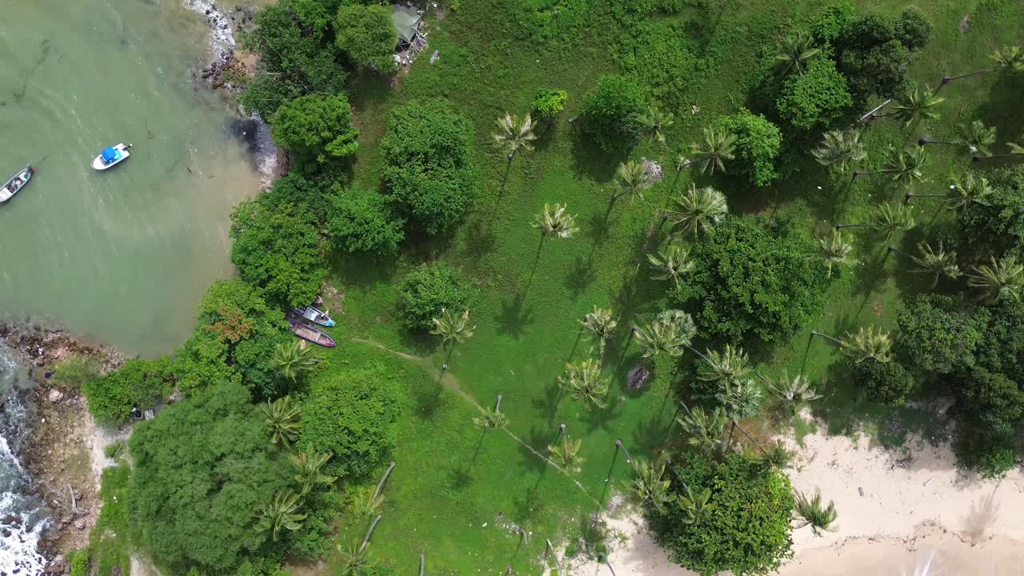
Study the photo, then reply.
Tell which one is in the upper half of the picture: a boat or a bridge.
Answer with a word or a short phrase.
boat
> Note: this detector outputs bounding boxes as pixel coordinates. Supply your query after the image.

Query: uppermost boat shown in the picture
[91,142,133,168]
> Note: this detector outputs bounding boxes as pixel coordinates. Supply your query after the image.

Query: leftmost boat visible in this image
[0,166,35,200]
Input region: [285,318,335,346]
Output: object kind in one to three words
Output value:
boat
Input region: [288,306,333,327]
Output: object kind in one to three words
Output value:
boat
